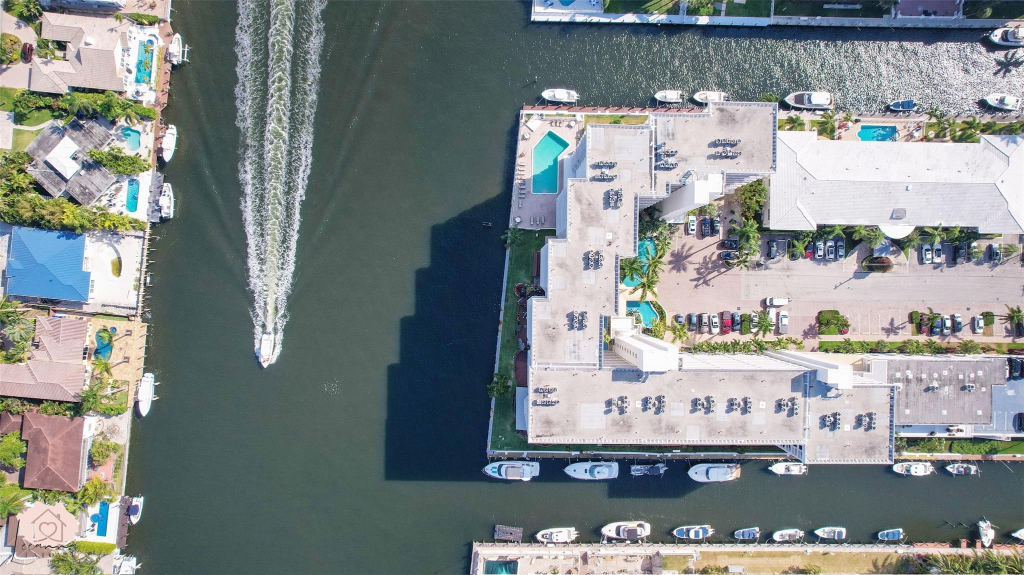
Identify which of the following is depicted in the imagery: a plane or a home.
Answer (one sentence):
The one in the frame is a home.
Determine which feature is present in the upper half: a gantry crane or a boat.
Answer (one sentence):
The one visible in the upper half is a boat.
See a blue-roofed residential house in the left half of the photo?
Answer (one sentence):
Yes, looking in the left half of the photo, one can make out a blue-roofed residential house.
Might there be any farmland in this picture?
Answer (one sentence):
No, there's no farmland in this view.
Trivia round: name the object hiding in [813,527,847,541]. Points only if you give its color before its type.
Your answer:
white boat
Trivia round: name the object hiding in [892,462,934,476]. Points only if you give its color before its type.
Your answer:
white boat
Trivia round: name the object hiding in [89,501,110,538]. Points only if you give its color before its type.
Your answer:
blue swimming pool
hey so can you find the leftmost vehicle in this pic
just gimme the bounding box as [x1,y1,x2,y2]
[21,43,33,63]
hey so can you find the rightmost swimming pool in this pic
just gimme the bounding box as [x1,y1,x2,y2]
[855,123,902,141]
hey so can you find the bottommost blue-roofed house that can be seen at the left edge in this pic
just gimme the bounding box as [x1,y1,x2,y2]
[6,227,98,302]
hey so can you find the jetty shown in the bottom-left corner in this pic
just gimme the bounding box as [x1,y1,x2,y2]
[116,495,134,549]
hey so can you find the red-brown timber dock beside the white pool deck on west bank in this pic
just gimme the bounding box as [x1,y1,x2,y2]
[156,21,174,112]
